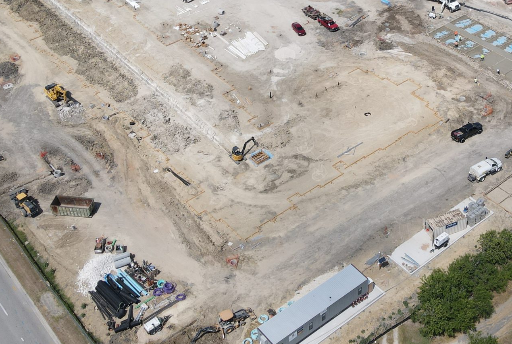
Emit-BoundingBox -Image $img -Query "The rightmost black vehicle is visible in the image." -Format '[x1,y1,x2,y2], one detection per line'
[452,125,482,141]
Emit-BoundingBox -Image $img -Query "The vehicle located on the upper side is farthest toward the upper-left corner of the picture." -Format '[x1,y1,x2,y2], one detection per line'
[43,81,73,109]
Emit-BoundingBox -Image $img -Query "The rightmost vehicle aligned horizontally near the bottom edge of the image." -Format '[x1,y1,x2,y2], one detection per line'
[184,312,256,338]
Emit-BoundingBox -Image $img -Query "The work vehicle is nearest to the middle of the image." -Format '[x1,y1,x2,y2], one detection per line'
[228,135,260,167]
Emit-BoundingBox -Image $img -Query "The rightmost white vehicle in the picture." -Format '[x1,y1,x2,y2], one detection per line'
[466,155,509,183]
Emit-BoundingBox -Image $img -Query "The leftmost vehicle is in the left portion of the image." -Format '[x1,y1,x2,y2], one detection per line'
[8,190,38,214]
